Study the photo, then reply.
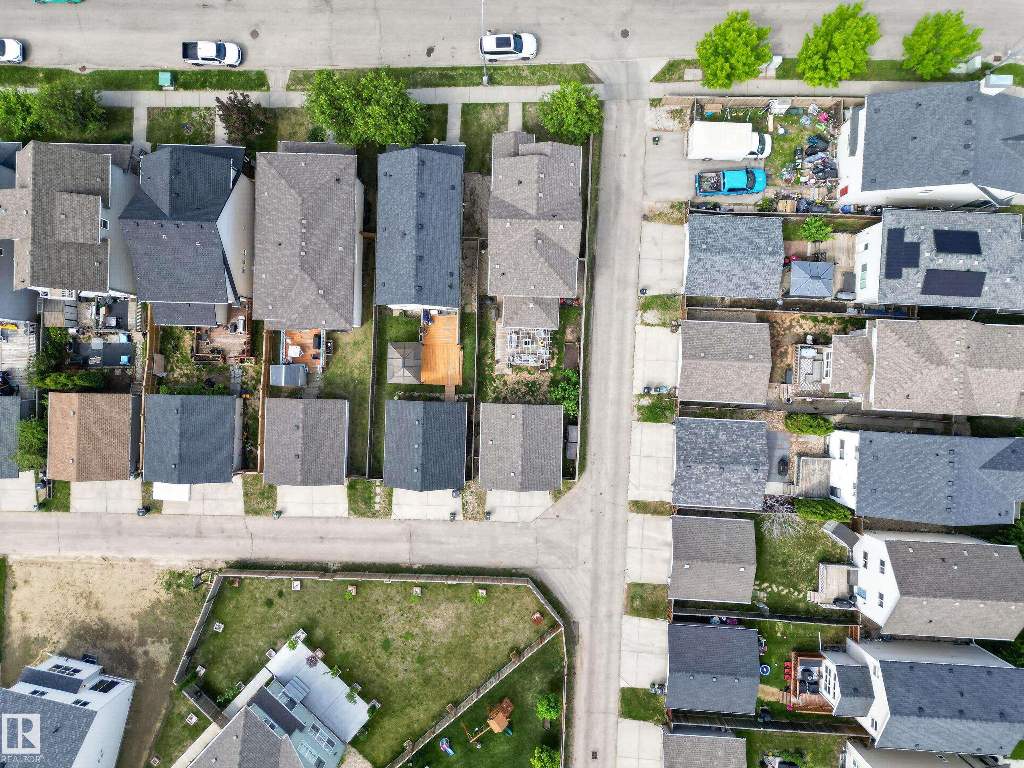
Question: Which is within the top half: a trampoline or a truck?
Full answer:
The one visible within the top half is a truck.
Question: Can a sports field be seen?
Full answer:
No, no sports field is visible in the scene.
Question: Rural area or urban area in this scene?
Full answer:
The land in this view is best described as urban.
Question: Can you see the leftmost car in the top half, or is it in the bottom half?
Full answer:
The leftmost car sits in the top half of the picture.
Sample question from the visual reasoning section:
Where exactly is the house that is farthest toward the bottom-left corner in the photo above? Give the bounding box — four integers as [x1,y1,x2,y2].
[0,654,136,768]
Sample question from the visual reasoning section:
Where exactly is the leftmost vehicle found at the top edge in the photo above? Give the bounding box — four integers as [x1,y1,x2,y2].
[0,37,25,64]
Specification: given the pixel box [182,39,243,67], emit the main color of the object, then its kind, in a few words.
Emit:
white truck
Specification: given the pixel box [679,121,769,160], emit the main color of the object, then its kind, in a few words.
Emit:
white truck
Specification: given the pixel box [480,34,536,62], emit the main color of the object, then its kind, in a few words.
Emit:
white car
